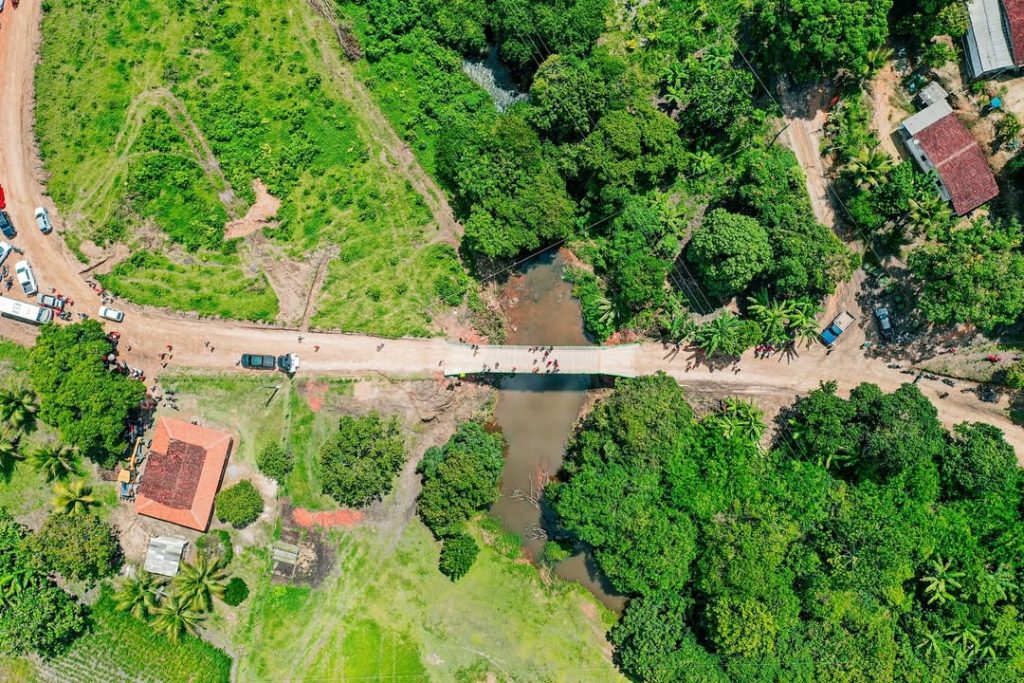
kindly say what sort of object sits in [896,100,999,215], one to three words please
house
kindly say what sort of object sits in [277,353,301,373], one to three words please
car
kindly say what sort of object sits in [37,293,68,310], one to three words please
vehicle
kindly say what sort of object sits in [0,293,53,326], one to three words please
bus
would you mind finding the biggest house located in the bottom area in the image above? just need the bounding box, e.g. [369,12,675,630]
[136,416,235,532]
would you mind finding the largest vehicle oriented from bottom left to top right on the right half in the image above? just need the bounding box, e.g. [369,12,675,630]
[822,311,855,344]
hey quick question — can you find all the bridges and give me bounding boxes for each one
[445,340,640,379]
